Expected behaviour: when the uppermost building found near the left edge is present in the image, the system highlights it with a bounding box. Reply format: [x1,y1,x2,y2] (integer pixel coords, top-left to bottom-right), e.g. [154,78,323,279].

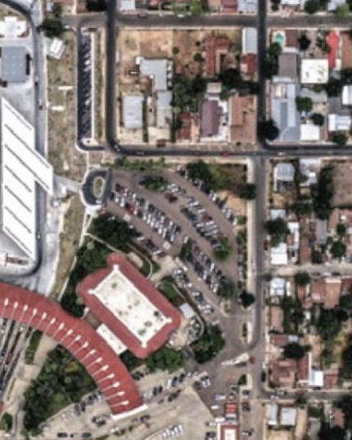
[0,17,27,37]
